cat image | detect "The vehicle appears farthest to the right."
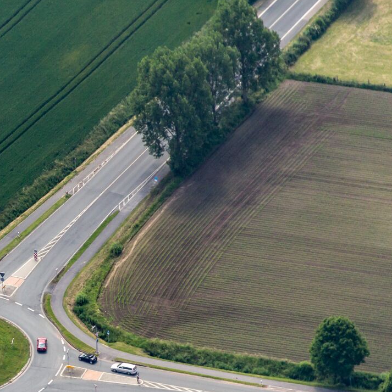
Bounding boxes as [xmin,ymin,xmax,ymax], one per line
[111,363,139,376]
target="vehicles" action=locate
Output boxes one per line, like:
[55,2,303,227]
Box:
[76,351,101,364]
[37,339,47,353]
[111,363,139,376]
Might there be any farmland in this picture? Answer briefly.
Yes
